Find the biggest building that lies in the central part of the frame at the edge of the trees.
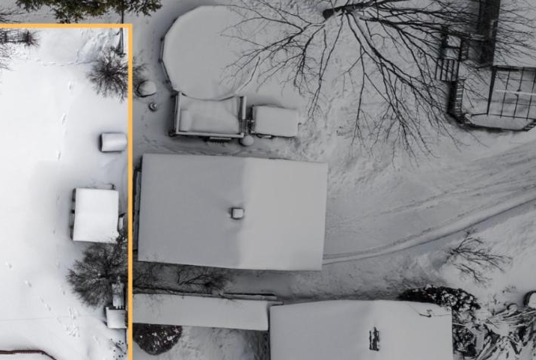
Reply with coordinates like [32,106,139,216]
[135,153,328,271]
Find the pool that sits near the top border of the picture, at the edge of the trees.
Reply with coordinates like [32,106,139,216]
[157,4,256,101]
